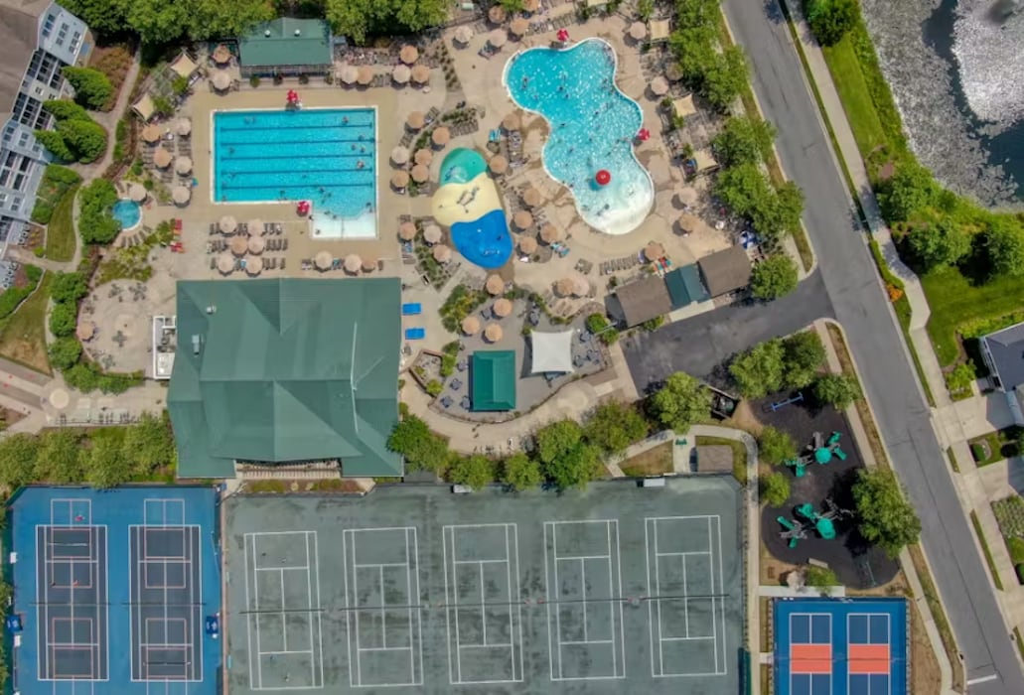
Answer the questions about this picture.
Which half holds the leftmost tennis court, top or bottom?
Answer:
bottom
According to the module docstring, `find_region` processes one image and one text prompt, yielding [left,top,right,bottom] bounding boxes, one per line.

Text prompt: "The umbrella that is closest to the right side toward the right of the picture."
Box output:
[738,232,754,248]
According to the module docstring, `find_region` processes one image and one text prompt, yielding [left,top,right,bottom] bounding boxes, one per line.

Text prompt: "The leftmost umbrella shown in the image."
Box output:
[78,321,97,340]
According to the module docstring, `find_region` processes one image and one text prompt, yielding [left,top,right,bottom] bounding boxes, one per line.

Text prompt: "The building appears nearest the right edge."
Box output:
[978,321,1024,427]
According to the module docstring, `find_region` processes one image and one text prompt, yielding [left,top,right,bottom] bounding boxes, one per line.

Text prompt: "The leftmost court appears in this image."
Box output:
[14,489,119,695]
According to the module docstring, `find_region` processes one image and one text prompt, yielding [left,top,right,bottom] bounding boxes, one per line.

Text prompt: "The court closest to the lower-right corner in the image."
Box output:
[840,599,907,695]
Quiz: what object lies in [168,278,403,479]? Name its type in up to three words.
building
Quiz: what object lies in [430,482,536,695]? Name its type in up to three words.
tennis court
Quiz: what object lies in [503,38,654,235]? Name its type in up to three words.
swimming pool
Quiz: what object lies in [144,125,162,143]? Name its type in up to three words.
umbrella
